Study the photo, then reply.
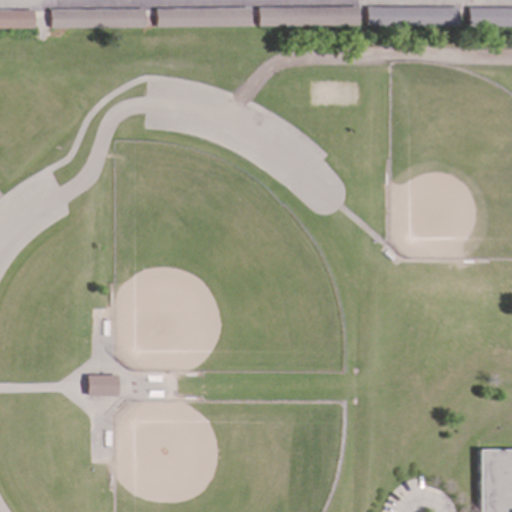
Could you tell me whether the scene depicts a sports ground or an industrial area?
sports ground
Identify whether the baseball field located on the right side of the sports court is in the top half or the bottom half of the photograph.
top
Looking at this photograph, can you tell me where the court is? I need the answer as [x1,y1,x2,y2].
[310,81,359,106]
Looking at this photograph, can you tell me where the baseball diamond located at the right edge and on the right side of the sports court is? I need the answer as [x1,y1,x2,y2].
[386,62,512,262]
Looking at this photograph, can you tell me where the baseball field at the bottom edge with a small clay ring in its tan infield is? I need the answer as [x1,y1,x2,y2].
[113,400,346,512]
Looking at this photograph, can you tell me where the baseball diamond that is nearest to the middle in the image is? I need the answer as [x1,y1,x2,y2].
[112,140,346,374]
